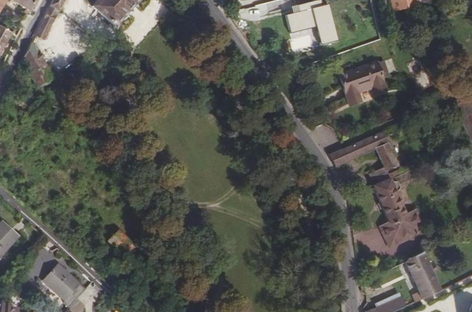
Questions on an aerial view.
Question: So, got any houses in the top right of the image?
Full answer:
Yes, a house can be seen in the top right of the image.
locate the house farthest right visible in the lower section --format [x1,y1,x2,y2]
[406,252,442,302]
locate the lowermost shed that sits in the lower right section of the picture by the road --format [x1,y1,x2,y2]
[365,292,406,312]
